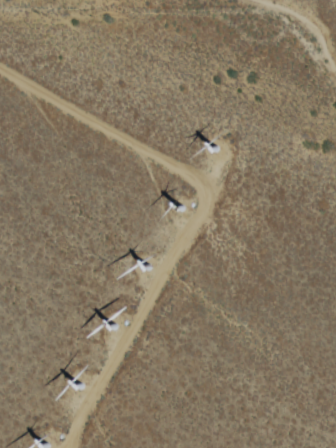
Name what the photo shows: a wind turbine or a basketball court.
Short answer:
wind turbine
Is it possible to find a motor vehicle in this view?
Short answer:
No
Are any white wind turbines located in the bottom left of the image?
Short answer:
Yes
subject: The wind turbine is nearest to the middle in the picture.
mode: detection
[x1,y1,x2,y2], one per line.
[156,191,188,222]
